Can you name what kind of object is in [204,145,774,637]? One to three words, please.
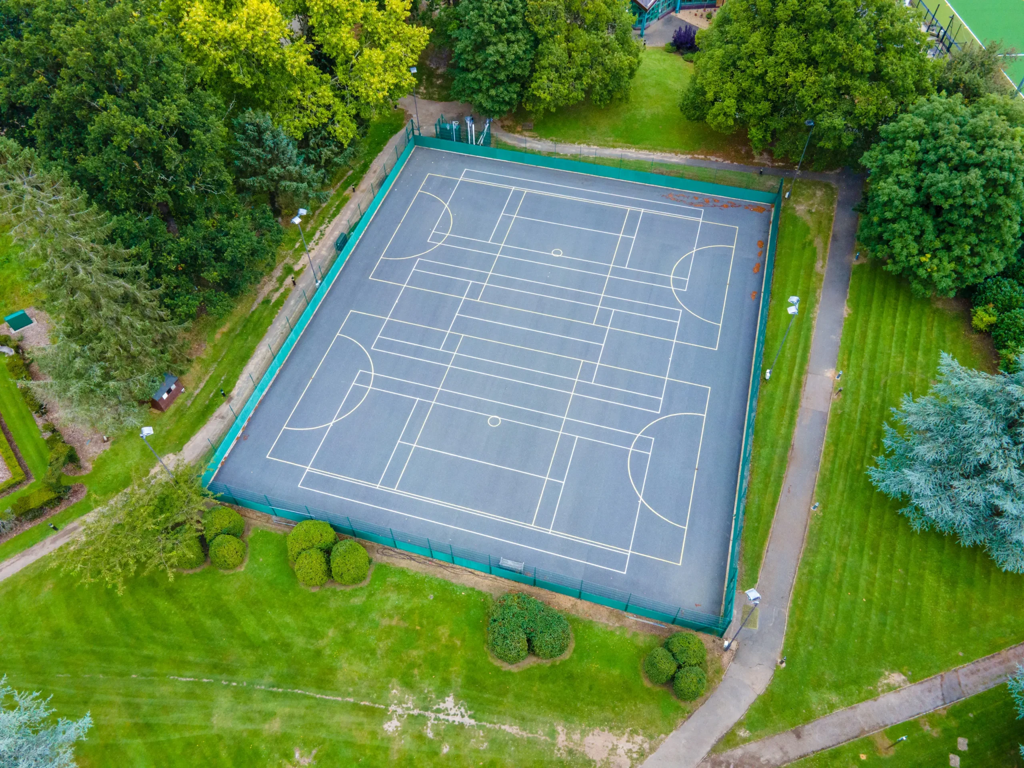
sports court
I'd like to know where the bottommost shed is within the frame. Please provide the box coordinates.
[140,370,187,412]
